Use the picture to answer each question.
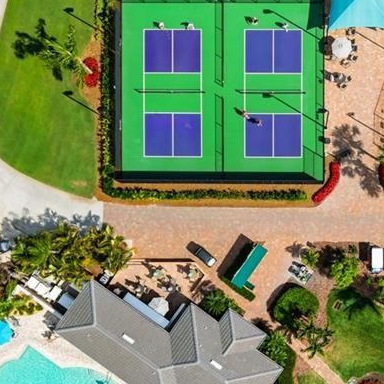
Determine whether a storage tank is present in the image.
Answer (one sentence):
No, there's no storage tank here.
